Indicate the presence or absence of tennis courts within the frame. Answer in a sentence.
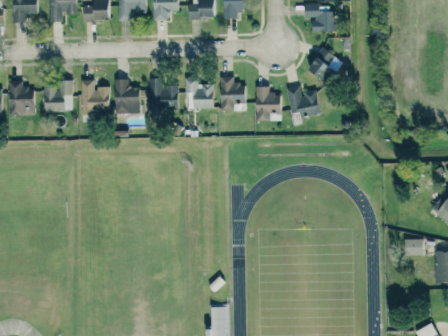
No, no tennis court is visible in the scene.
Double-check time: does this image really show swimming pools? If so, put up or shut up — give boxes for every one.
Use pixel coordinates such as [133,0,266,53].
[128,118,145,128]
[56,116,67,128]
